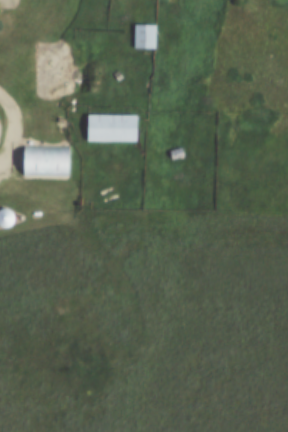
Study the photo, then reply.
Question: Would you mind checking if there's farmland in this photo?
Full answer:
Yes, some farmland is visible.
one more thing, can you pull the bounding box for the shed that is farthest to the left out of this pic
[24,146,70,176]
